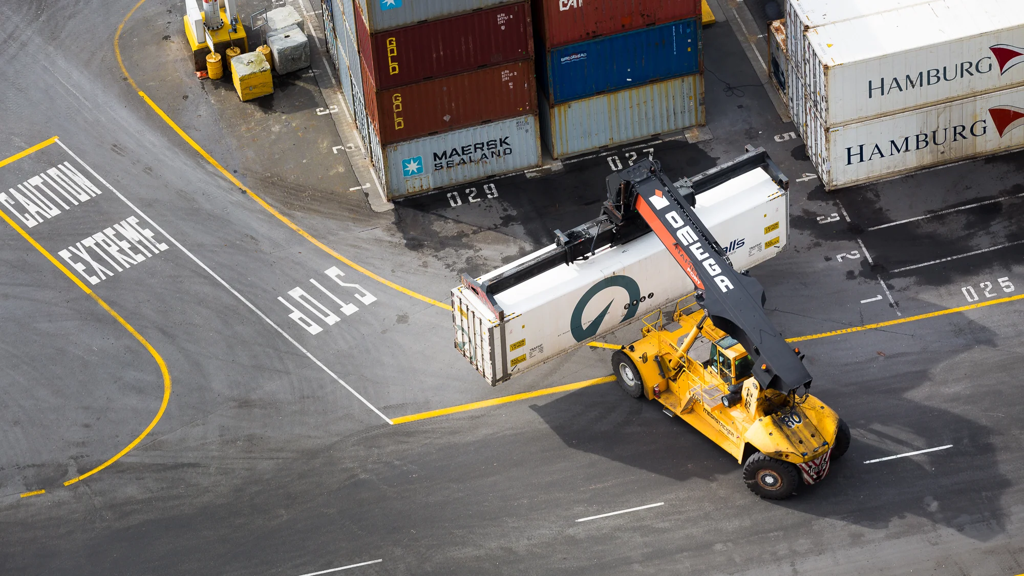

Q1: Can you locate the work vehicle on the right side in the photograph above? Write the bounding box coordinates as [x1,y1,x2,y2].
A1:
[462,145,852,500]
